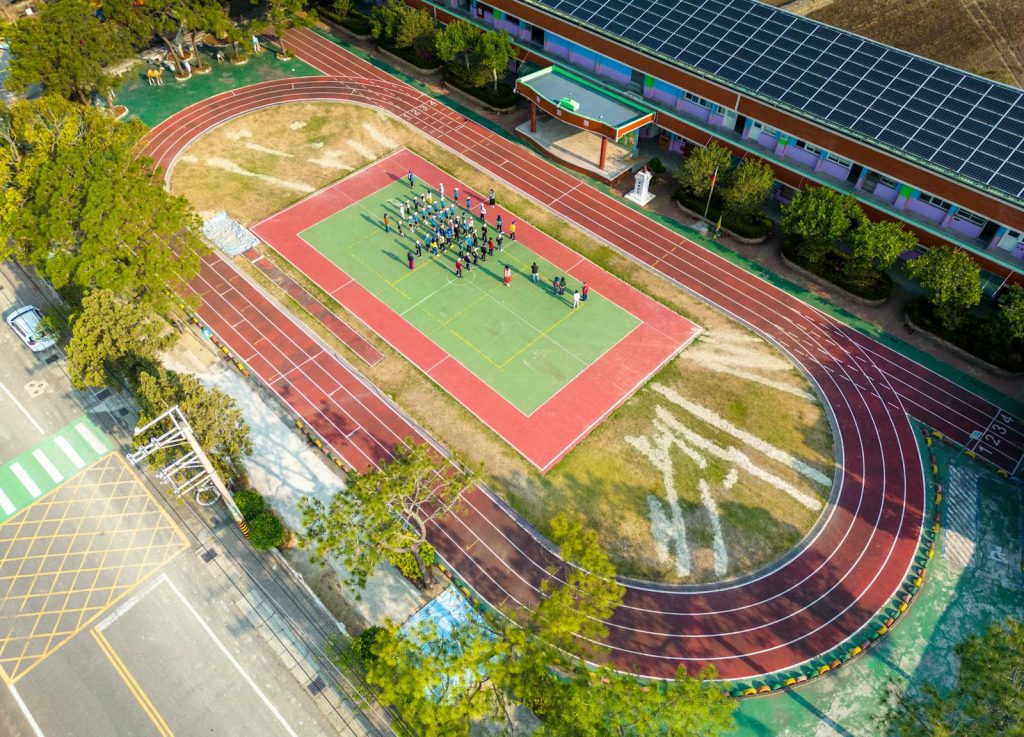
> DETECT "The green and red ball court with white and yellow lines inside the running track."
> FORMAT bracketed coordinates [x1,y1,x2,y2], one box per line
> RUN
[249,147,705,473]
